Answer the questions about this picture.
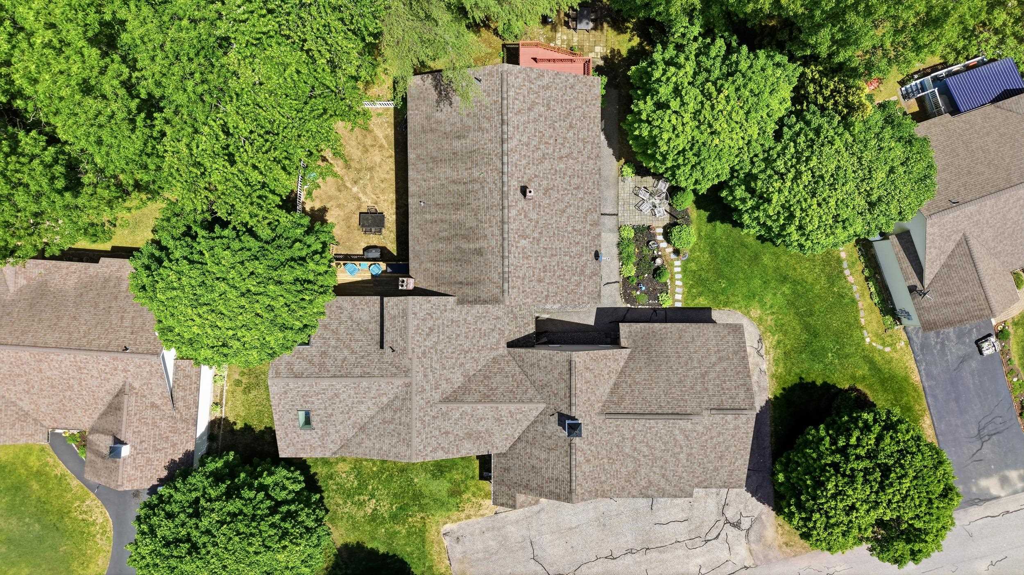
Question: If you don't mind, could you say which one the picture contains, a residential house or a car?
residential house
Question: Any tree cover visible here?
Yes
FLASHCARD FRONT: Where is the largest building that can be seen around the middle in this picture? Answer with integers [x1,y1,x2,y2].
[268,64,756,510]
